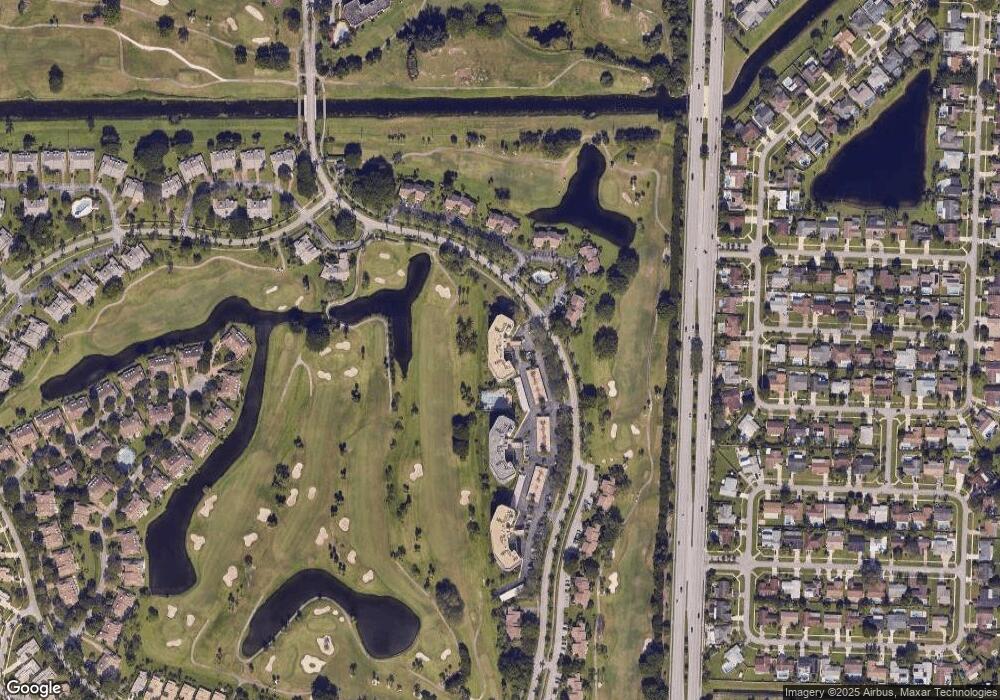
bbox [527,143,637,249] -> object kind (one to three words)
pond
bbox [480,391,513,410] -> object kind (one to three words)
swimming pool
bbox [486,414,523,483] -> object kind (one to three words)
building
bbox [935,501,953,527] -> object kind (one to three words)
house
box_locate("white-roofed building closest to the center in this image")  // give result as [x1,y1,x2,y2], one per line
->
[485,312,522,381]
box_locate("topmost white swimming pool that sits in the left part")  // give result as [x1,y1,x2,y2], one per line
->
[333,21,350,44]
